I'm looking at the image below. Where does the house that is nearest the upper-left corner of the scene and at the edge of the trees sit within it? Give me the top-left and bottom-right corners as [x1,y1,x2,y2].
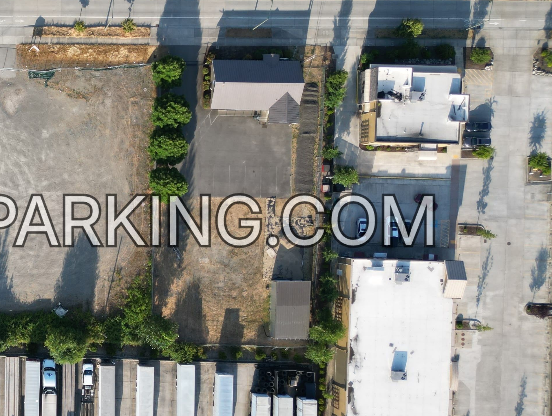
[209,52,310,123]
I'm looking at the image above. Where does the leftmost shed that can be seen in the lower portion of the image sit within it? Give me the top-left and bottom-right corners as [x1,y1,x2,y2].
[268,280,310,340]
